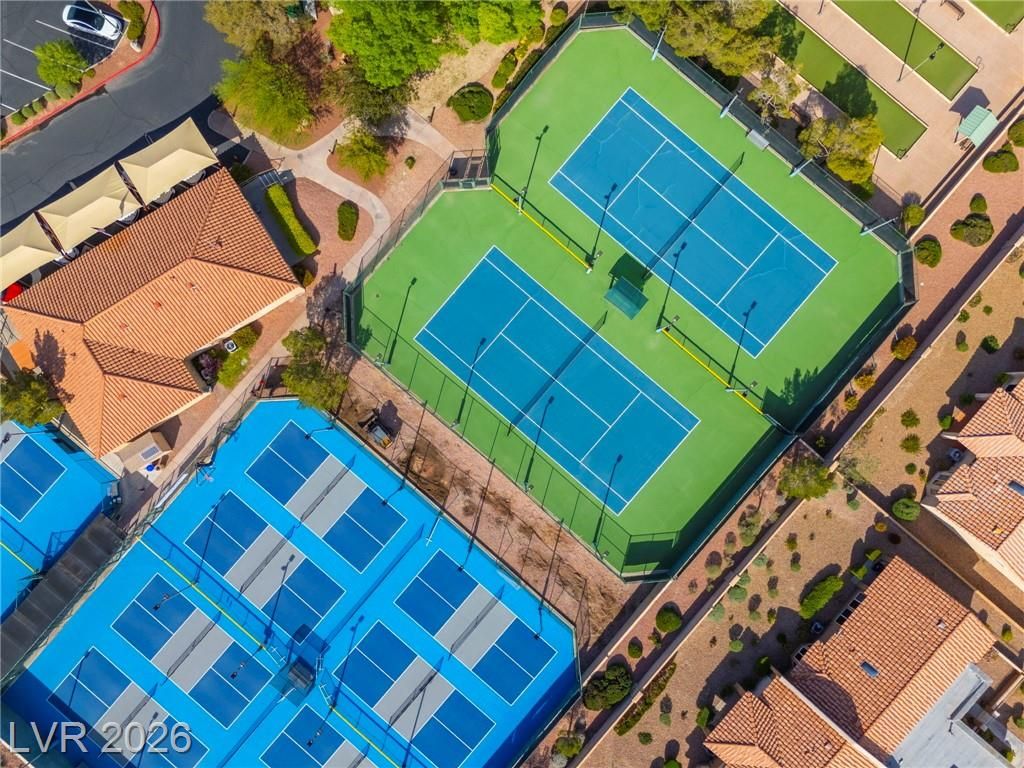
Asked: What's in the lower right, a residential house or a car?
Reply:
residential house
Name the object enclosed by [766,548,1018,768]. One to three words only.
house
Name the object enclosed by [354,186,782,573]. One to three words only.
tennis court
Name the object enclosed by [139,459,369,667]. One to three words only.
sports court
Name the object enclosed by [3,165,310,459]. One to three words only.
building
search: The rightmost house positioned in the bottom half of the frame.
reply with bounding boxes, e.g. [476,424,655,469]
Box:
[922,375,1024,581]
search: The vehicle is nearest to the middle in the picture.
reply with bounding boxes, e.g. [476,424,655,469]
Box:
[359,411,400,453]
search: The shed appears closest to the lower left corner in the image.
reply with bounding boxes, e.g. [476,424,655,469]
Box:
[116,431,184,474]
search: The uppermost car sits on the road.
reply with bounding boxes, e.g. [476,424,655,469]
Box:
[59,1,119,41]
